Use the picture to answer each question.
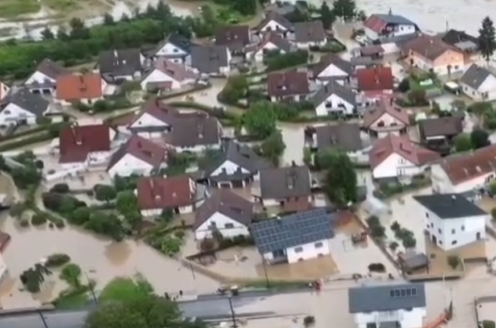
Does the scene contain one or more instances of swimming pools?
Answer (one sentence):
No, the scene contains no swimming pool.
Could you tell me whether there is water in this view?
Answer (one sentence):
Yes, there's water in this view.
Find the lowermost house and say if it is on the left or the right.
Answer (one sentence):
The lowermost house appears in the right half of the scene.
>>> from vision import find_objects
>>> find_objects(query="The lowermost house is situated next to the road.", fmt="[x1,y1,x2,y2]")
[348,279,427,328]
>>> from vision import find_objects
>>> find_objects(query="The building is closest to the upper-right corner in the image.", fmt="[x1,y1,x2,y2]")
[443,24,478,50]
